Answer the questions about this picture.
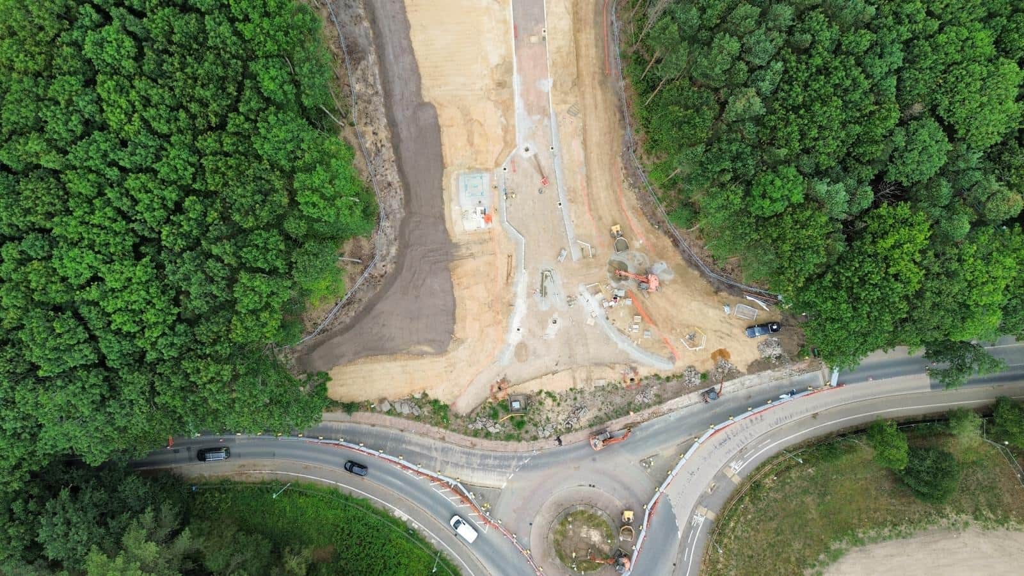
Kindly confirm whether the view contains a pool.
No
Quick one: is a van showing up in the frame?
Yes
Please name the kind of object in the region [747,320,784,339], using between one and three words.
vehicle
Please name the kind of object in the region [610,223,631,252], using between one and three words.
truck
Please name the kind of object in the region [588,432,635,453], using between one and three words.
work vehicle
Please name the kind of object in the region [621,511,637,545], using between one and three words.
vehicle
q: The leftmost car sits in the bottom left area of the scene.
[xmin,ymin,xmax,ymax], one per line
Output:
[195,447,228,463]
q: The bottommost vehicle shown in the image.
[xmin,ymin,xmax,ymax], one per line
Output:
[596,555,631,573]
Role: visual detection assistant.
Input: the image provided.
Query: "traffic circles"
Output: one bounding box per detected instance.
[461,441,697,576]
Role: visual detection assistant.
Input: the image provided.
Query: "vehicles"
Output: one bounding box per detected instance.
[612,267,663,296]
[342,461,368,478]
[449,516,479,548]
[703,374,723,406]
[596,555,631,573]
[747,320,784,339]
[588,432,635,453]
[195,447,228,463]
[621,511,637,545]
[610,223,631,252]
